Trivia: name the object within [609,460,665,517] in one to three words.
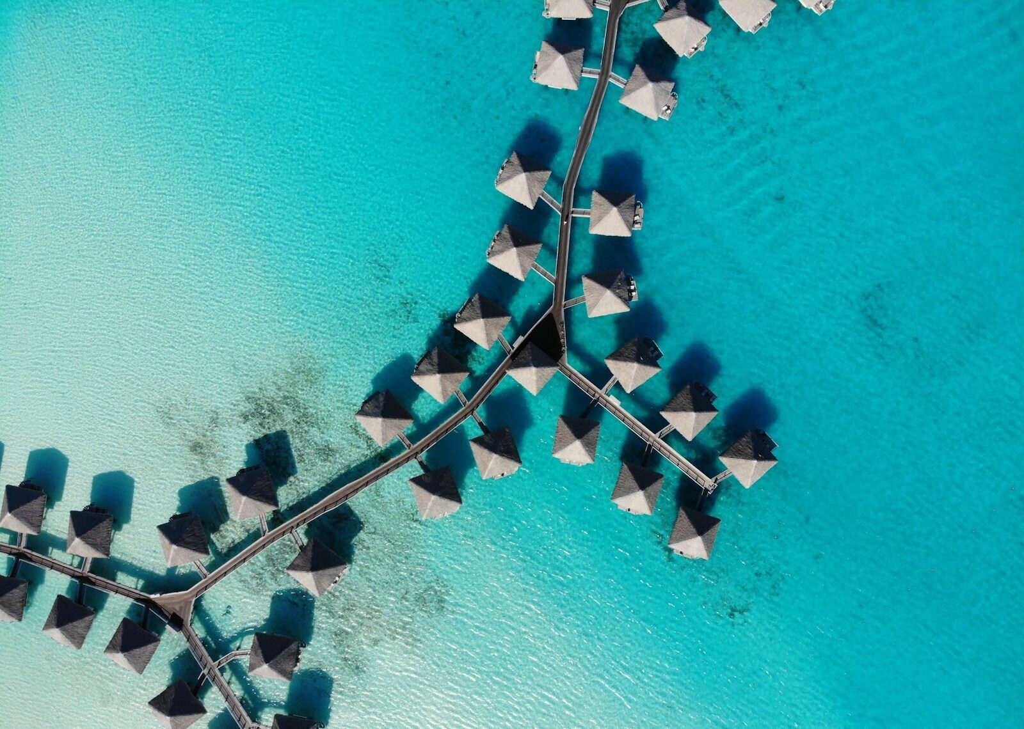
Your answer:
house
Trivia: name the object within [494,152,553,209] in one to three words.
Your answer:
house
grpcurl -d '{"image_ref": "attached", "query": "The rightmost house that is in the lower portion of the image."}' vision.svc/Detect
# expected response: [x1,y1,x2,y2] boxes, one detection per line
[718,428,779,490]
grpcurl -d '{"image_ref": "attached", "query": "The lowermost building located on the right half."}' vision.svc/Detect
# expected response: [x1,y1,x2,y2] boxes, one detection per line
[666,503,723,562]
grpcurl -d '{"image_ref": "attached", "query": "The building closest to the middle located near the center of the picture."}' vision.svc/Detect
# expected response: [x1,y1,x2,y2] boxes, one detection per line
[505,339,561,397]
